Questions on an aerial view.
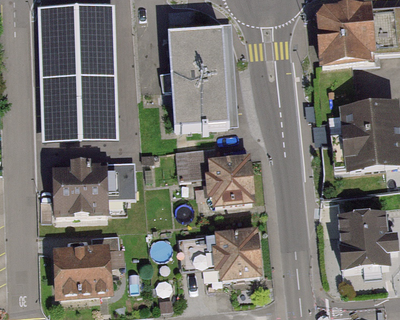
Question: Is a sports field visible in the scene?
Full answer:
No, the scene contains no sports field.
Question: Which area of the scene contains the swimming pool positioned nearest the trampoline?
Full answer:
The swimming pool positioned nearest the trampoline is located in the bottom region of the scene.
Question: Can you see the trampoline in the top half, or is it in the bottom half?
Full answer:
Seen from above, the trampoline lies in the bottom half of the view.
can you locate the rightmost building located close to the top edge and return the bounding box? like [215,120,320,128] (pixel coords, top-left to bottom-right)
[316,0,400,72]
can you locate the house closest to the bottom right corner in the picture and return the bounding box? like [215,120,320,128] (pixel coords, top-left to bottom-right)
[338,212,399,282]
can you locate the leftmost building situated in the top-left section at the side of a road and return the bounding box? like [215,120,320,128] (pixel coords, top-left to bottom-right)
[39,4,118,145]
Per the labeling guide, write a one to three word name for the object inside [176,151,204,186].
shed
